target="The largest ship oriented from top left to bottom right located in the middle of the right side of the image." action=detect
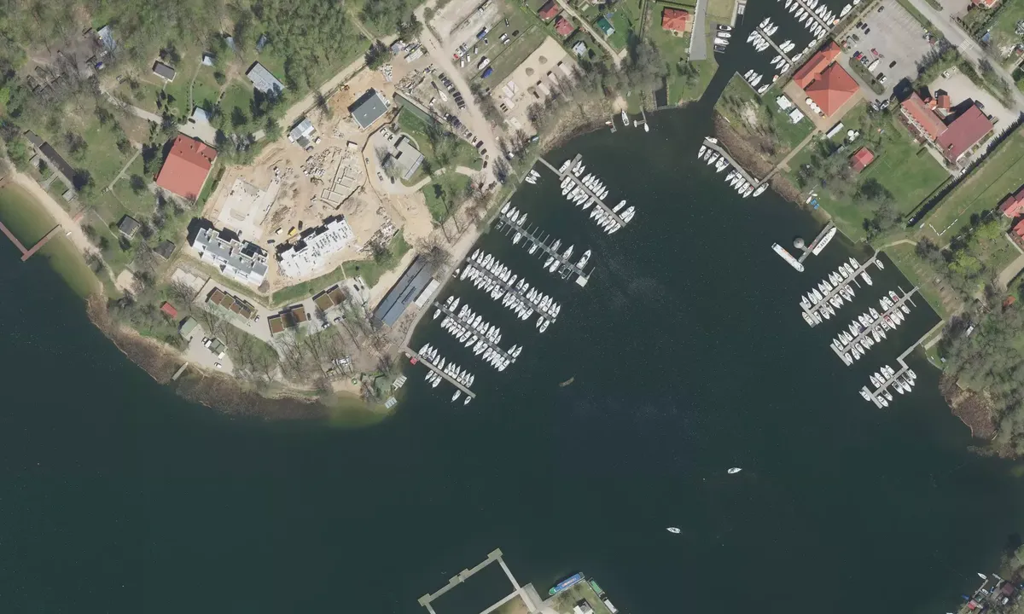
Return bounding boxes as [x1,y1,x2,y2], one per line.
[770,243,802,272]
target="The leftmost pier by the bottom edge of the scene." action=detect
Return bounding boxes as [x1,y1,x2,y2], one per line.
[418,549,521,614]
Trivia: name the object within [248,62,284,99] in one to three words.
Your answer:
barn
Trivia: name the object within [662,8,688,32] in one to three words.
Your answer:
house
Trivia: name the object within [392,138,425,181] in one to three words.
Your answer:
house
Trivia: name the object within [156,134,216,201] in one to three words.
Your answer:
building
